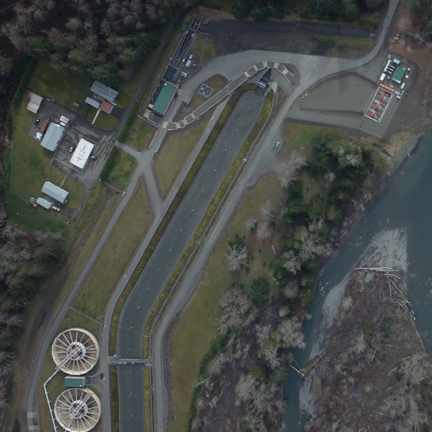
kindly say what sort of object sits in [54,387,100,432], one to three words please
storage tank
